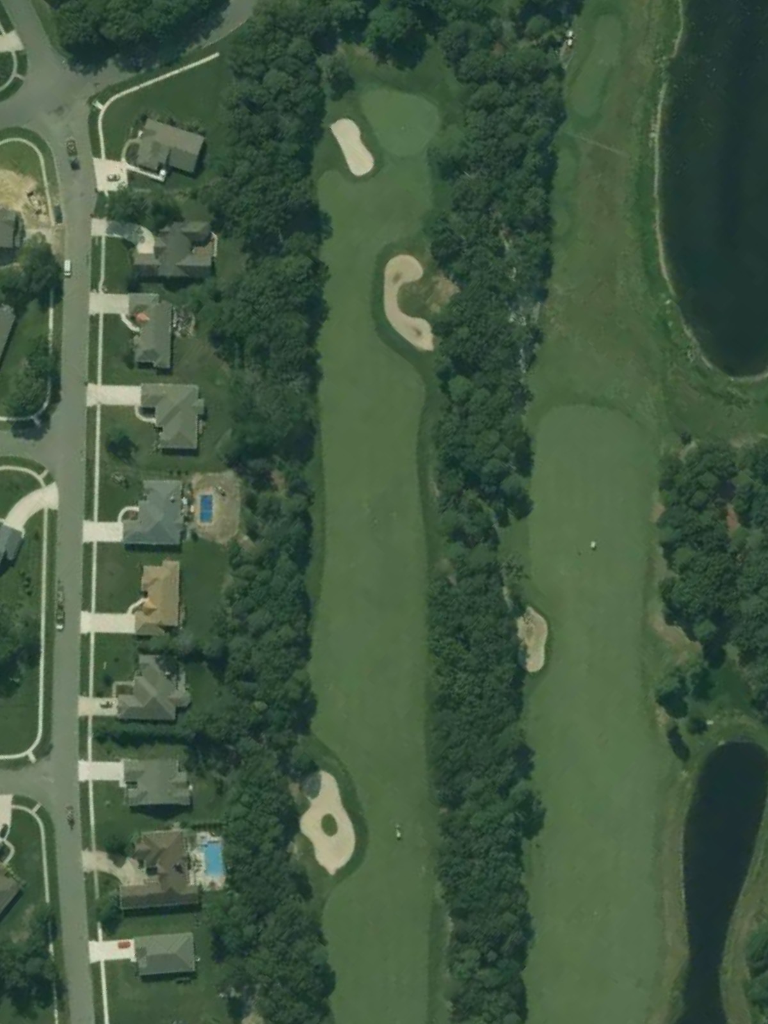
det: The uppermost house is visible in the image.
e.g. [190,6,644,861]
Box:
[134,118,205,172]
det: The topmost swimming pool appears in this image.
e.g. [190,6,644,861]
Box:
[199,494,214,524]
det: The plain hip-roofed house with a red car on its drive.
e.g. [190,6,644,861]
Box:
[133,933,196,976]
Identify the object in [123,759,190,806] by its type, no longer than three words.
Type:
house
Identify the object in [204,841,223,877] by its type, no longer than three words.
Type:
swimming pool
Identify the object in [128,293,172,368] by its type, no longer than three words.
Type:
house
